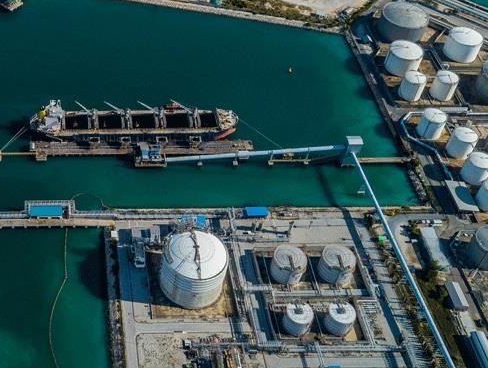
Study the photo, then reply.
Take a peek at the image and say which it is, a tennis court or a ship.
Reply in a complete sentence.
This aerial view contains a ship.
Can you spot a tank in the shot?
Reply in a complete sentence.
Yes, this view includes a tank.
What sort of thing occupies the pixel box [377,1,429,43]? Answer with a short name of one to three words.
storage tank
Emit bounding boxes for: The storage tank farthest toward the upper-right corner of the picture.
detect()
[441,24,484,63]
